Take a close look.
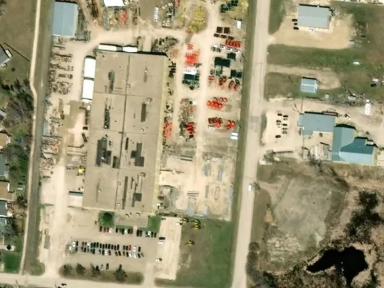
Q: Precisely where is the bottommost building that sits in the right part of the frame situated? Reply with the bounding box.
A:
[298,114,377,166]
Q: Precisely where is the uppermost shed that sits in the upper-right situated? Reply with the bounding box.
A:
[296,5,332,29]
